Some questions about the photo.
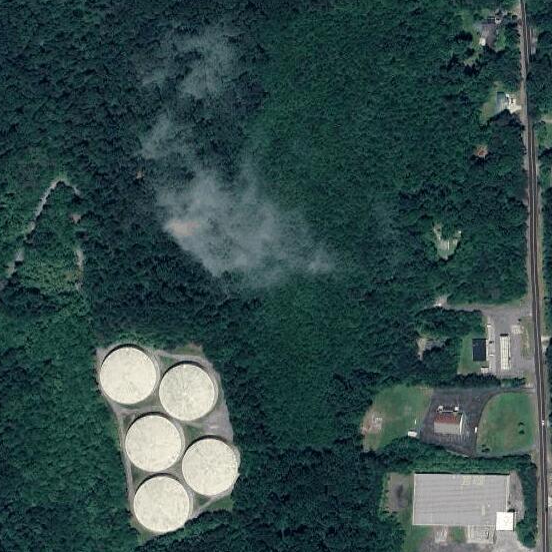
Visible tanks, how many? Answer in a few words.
5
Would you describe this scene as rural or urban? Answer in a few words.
rural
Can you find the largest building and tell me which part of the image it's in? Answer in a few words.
bottom right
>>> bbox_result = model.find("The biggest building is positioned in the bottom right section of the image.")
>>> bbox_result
[413,474,510,525]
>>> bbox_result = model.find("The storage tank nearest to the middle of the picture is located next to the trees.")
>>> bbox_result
[160,362,220,421]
